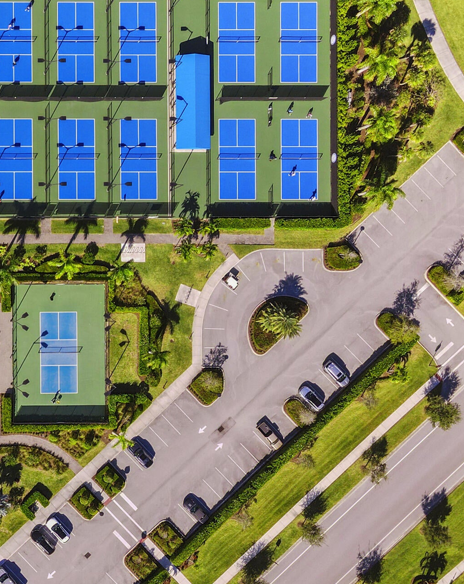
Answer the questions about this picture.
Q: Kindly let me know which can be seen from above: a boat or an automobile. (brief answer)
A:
automobile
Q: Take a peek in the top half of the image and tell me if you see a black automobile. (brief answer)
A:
No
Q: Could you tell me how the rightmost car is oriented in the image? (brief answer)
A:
on a diagonal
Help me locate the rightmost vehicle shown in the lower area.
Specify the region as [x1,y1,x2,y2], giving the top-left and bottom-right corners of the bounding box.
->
[323,357,348,386]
